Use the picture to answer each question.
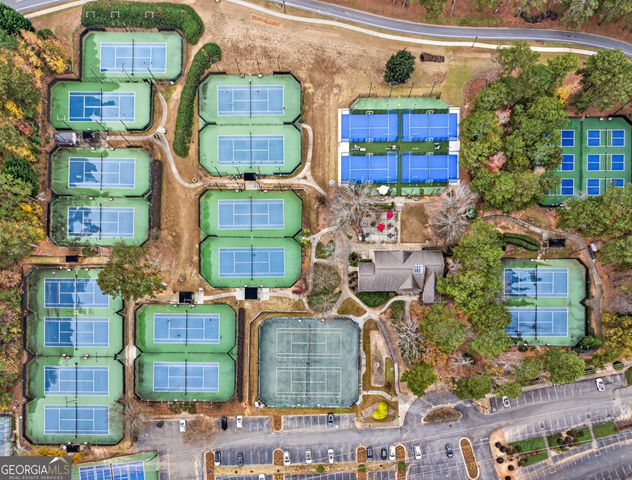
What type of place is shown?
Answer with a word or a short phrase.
sports ground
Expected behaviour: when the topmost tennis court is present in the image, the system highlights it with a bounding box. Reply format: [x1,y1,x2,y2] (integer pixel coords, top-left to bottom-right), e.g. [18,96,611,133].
[83,30,182,80]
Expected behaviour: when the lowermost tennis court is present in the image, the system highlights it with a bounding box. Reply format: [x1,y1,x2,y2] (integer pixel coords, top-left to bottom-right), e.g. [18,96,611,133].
[66,452,157,480]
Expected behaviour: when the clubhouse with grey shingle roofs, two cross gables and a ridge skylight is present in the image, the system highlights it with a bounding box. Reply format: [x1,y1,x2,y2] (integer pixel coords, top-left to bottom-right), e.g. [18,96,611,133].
[357,250,445,303]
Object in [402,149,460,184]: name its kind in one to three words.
sports court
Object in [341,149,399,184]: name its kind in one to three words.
sports court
